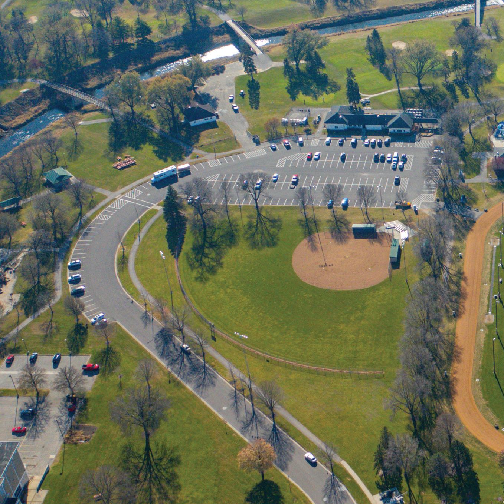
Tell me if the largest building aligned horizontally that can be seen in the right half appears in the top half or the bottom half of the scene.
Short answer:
top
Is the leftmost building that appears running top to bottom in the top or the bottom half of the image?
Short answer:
bottom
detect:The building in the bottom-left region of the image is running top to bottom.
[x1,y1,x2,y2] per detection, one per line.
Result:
[0,442,29,504]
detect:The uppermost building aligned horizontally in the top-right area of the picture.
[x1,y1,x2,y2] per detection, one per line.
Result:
[324,99,421,132]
